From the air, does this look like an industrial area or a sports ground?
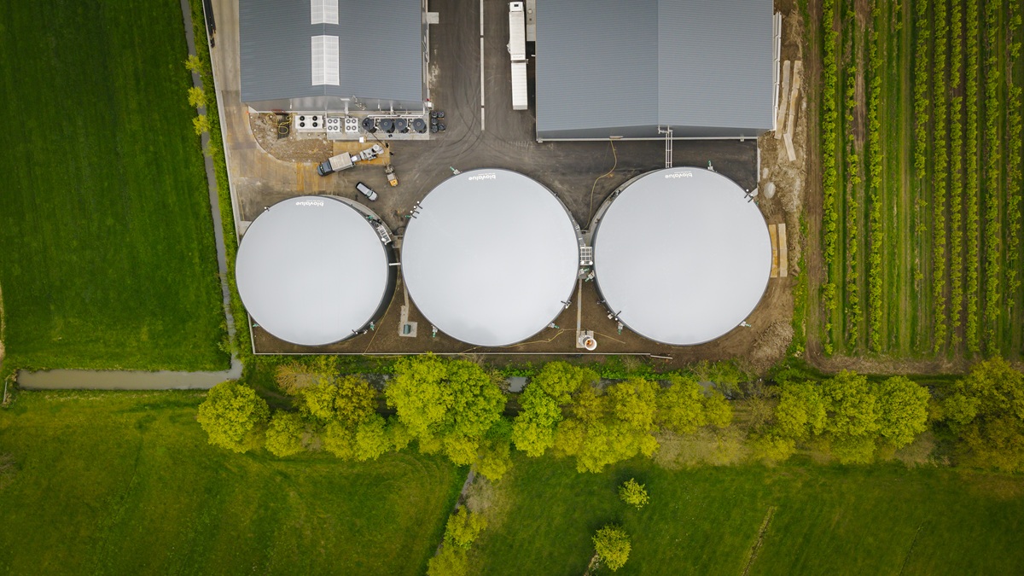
industrial area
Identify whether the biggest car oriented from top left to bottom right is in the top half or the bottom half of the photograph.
top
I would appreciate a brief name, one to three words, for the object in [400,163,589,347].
storage tank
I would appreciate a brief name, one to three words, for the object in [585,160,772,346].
storage tank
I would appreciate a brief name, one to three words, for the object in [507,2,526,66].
vehicle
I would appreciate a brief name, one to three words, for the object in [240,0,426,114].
warehouse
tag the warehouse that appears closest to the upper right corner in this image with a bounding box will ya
[528,0,781,143]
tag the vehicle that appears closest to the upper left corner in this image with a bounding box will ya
[314,148,353,173]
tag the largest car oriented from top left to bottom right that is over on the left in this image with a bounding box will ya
[355,180,379,203]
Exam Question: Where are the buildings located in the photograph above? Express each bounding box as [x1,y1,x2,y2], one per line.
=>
[240,0,426,114]
[528,0,781,143]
